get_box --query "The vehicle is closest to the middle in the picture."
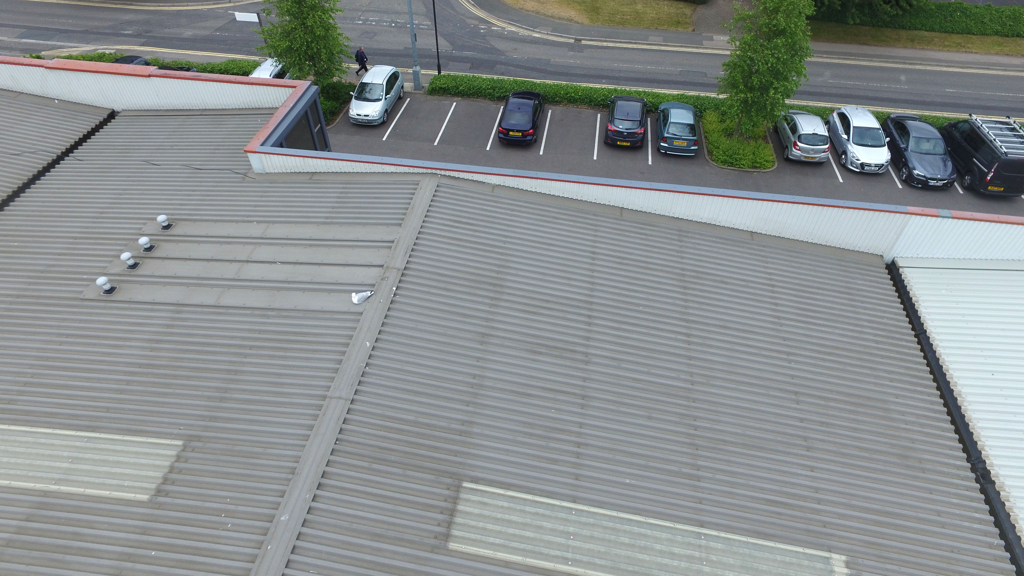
[500,92,546,145]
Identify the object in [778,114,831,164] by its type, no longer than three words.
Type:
car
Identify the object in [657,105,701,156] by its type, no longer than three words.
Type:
car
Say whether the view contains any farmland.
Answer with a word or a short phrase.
No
